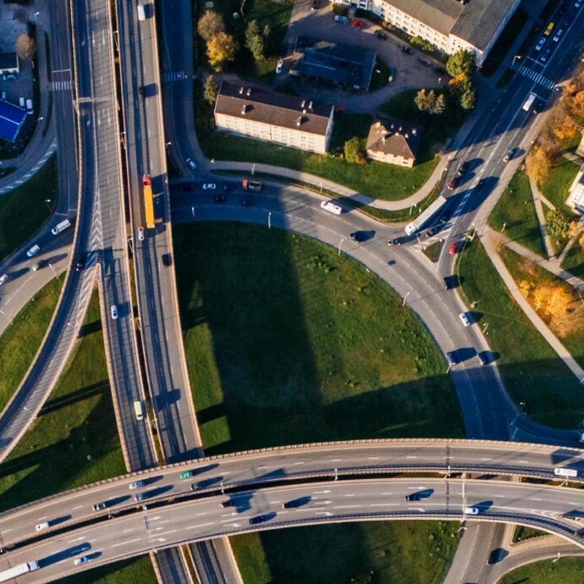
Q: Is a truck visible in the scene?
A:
Yes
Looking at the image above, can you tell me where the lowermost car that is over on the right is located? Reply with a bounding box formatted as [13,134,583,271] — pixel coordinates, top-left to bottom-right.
[488,549,500,565]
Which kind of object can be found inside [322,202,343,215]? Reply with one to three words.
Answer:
vehicle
